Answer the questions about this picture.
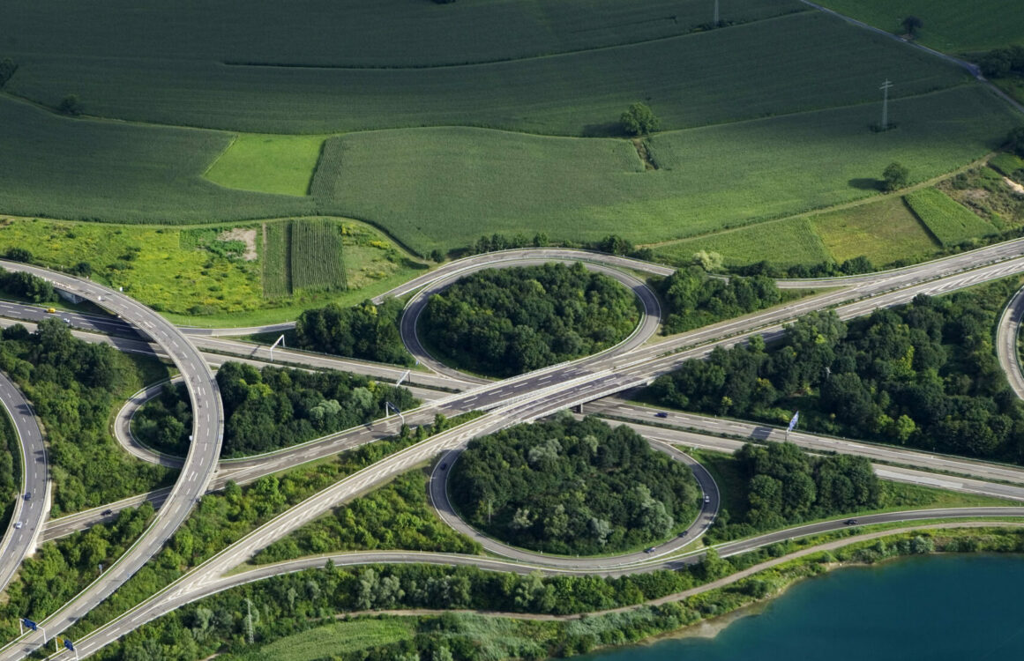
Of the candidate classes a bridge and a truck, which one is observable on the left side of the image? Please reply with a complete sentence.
You can see a bridge on the left side of the image.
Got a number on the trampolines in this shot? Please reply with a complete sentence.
The picture shows no trampolines.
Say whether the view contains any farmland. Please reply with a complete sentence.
Yes, farmland shows up in the scene.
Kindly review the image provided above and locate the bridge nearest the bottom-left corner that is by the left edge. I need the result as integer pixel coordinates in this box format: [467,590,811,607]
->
[0,488,51,567]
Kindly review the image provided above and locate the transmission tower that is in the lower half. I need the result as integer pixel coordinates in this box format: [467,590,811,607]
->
[243,598,255,644]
